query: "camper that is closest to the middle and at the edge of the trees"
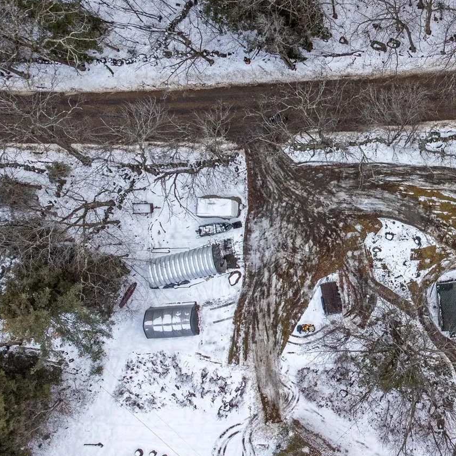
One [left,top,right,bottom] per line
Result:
[189,192,245,222]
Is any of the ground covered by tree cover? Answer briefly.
Yes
